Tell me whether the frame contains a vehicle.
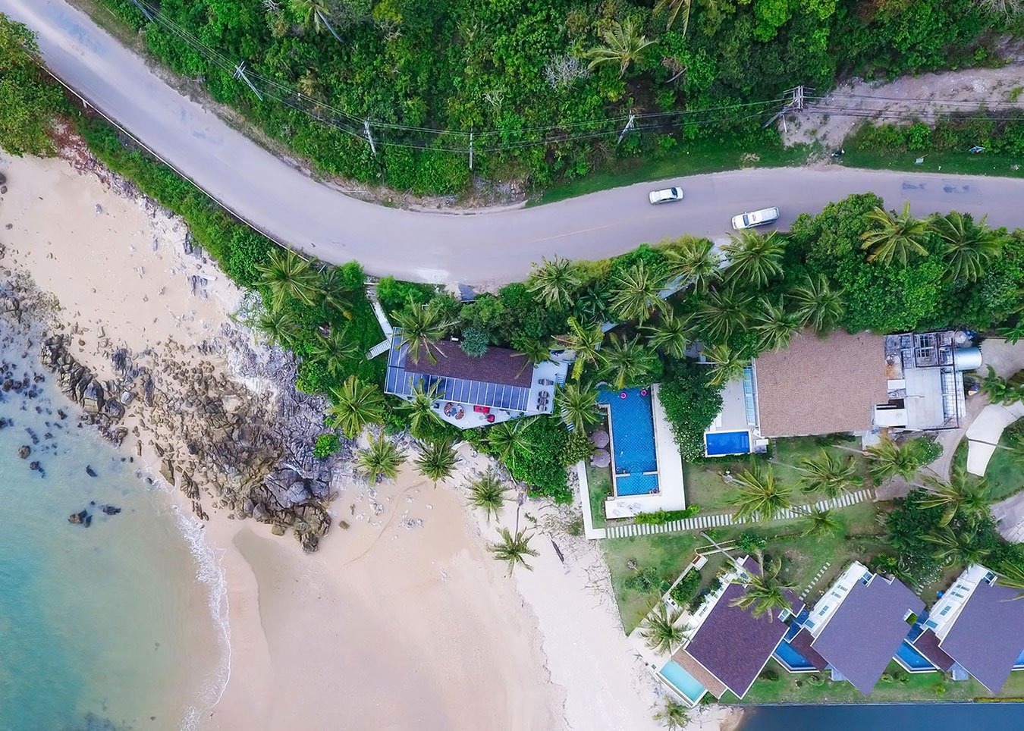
Yes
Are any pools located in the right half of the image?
Yes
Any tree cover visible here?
Yes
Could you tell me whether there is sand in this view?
Yes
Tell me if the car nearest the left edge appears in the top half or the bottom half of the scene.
top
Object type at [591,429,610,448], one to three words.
umbrella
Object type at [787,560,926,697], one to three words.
house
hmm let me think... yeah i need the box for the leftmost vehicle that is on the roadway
[646,185,685,206]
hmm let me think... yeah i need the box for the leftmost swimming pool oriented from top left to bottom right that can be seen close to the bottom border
[657,656,708,707]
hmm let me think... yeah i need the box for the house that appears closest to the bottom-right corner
[906,562,1024,698]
